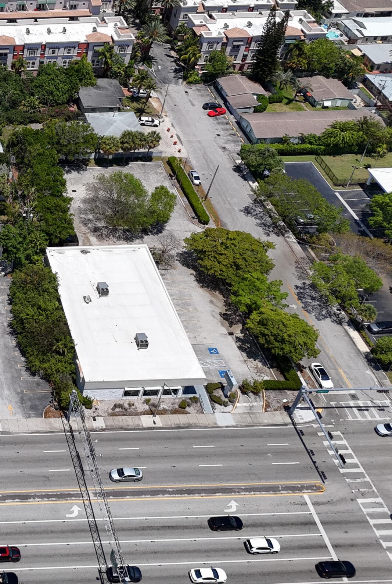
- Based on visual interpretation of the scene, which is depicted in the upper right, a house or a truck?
house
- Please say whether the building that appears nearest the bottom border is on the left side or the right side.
left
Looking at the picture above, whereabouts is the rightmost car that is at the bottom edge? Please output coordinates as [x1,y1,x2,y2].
[314,559,358,581]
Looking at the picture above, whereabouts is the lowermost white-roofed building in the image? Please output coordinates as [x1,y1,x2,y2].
[45,245,207,399]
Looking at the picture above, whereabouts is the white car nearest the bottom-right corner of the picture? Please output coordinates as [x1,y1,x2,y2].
[244,537,282,556]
